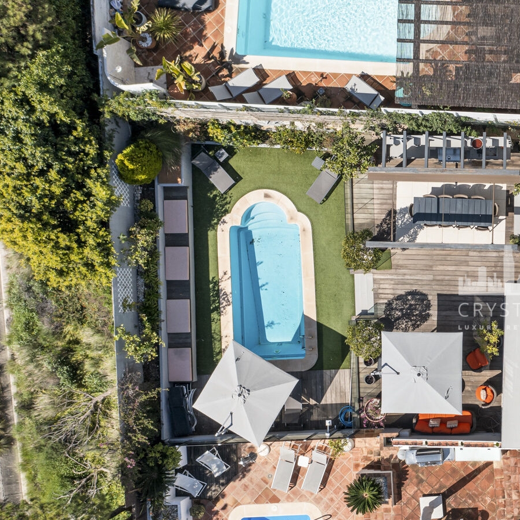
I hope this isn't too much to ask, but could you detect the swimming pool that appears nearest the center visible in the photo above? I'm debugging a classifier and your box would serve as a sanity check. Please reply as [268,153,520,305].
[218,189,317,371]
